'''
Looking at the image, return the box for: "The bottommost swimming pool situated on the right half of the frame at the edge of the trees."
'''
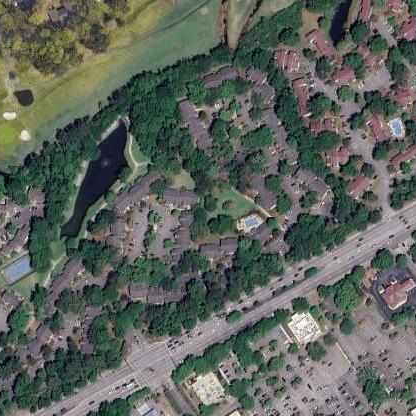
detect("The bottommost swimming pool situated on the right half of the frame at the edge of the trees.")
[237,216,264,232]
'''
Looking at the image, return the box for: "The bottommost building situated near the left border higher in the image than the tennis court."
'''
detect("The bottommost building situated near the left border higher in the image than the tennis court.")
[0,223,30,255]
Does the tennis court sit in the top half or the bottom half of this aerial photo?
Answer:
bottom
